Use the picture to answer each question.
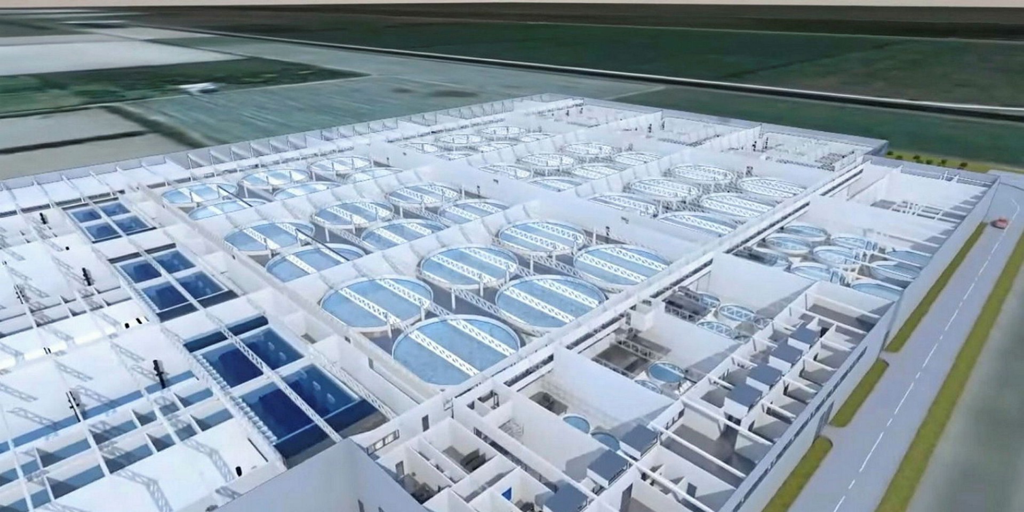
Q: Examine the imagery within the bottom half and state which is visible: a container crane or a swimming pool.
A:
swimming pool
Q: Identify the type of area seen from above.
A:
industrial area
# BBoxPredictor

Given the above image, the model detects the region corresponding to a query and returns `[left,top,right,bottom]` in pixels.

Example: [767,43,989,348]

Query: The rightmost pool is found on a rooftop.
[188,322,365,472]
